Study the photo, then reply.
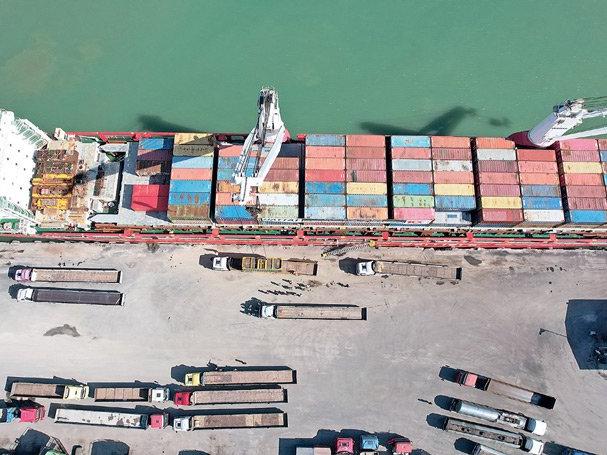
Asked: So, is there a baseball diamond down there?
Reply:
No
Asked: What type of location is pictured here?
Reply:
port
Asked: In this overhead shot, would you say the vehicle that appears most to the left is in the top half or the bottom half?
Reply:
bottom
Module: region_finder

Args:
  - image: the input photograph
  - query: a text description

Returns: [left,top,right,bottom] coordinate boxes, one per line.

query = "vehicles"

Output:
[445,395,547,435]
[452,369,560,411]
[185,369,296,387]
[91,386,174,403]
[174,412,287,432]
[314,444,330,455]
[355,261,462,280]
[0,403,53,423]
[11,267,123,284]
[261,303,368,319]
[360,431,380,455]
[297,443,314,455]
[213,257,317,274]
[56,407,174,430]
[174,388,288,406]
[392,436,414,455]
[14,288,124,305]
[334,433,354,455]
[442,412,544,454]
[587,343,607,363]
[11,382,101,401]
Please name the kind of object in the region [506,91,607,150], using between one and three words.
crane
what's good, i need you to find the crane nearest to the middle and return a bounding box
[230,86,291,212]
